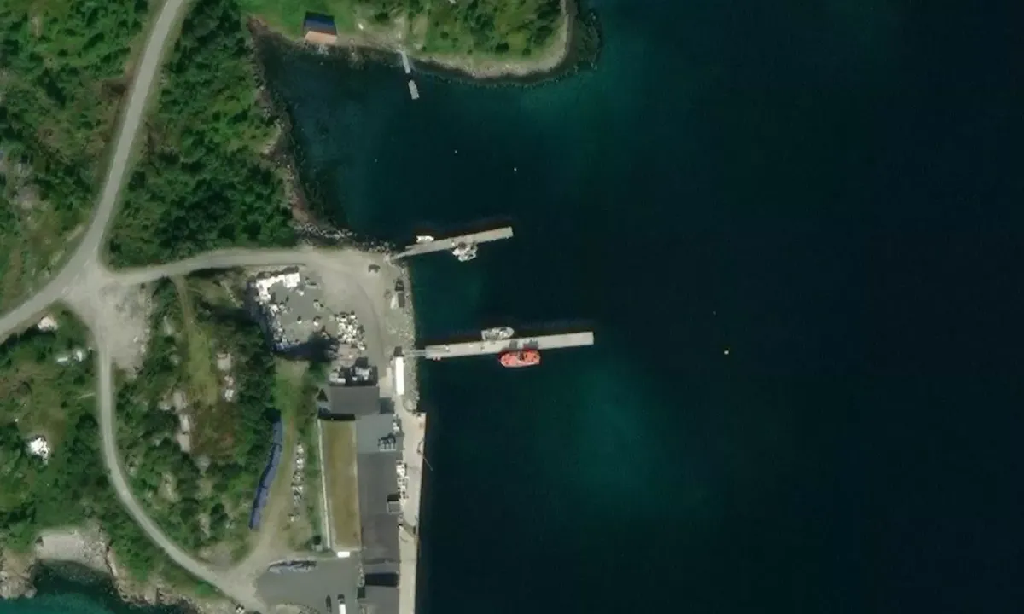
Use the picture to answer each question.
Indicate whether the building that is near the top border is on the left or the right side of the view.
left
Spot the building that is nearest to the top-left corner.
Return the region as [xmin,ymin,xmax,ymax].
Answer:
[305,19,337,45]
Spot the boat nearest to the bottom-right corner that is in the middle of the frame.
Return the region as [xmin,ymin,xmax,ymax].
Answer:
[498,348,543,367]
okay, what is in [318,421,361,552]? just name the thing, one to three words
building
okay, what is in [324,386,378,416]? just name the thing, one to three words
shed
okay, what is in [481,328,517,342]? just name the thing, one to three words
boat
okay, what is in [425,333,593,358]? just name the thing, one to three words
pier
